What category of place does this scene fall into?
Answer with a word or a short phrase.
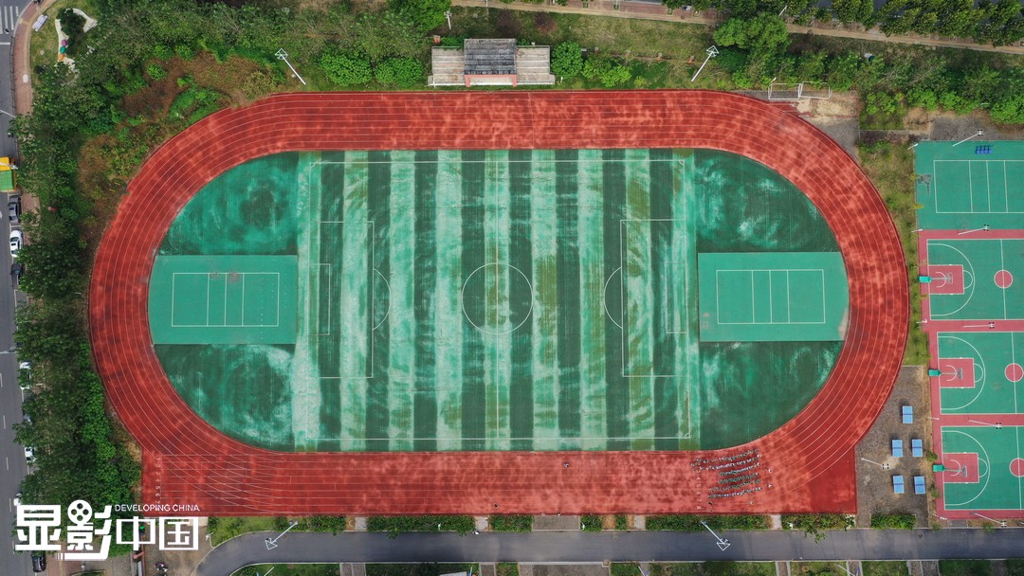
sports ground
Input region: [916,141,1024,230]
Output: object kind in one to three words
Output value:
sports court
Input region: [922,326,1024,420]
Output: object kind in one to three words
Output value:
basketball court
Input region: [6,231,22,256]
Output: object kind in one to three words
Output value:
car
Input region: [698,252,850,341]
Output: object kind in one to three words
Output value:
sports court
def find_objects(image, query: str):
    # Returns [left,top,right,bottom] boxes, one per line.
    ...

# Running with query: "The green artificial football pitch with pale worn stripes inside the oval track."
[148,150,850,451]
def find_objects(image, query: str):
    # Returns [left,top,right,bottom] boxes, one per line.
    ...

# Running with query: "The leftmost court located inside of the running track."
[149,255,298,344]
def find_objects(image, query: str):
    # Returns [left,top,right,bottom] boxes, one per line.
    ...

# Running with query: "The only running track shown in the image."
[90,93,909,519]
